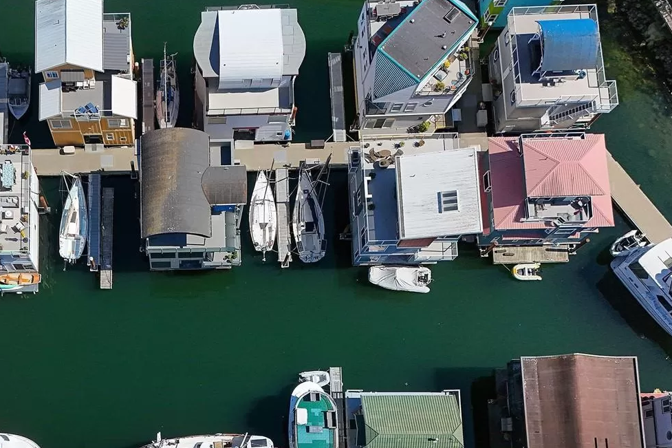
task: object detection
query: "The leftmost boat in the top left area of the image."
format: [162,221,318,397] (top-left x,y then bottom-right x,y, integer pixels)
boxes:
[6,61,30,119]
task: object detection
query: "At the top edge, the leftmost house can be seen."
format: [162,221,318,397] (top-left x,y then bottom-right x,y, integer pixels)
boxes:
[34,0,138,150]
